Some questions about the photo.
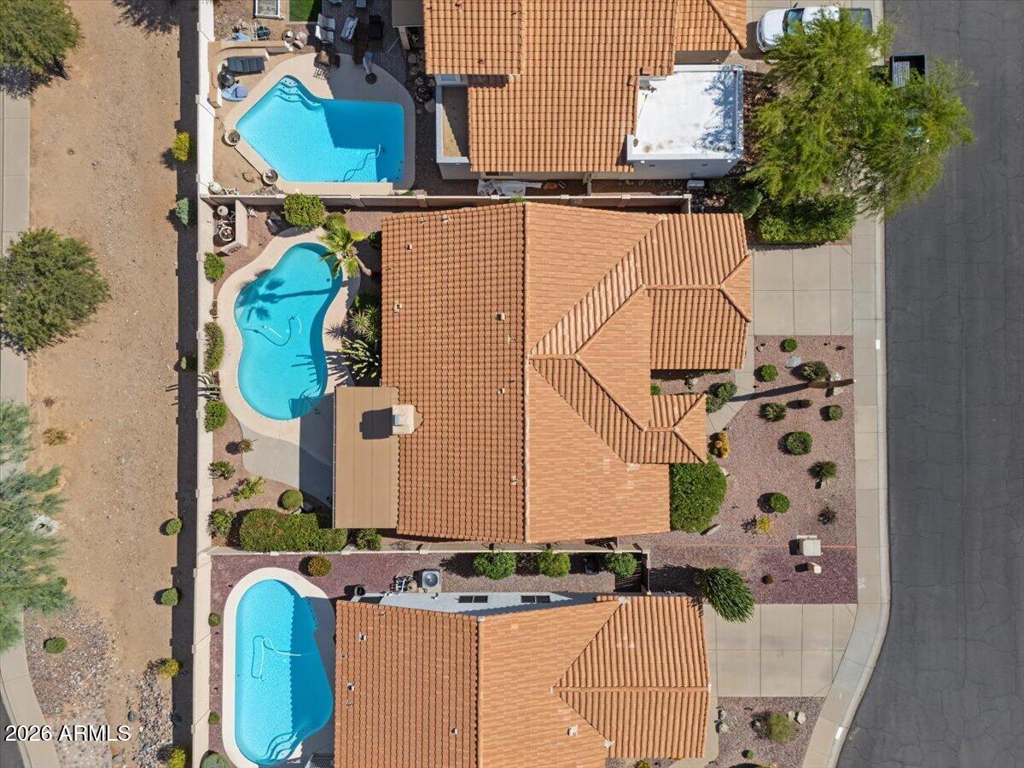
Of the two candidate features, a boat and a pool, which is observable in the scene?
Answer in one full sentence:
The one in the frame is a pool.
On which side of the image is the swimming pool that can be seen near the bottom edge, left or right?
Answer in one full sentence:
The swimming pool that can be seen near the bottom edge is on the left side of the image.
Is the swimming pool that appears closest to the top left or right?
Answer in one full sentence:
The swimming pool that appears closest to the top sits on the left side.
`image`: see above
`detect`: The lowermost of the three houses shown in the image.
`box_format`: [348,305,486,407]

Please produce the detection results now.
[334,592,711,768]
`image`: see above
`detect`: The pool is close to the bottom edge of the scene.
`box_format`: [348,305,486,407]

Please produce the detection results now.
[234,579,333,765]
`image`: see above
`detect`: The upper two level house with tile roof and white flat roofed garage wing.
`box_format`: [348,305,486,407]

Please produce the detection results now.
[392,0,750,179]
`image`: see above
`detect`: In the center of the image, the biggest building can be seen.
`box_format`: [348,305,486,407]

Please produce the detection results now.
[332,202,755,548]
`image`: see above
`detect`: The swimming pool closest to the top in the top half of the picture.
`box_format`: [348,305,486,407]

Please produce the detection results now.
[236,73,405,183]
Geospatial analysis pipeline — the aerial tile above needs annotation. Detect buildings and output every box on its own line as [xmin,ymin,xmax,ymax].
[332,202,755,548]
[334,592,711,768]
[392,0,750,179]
